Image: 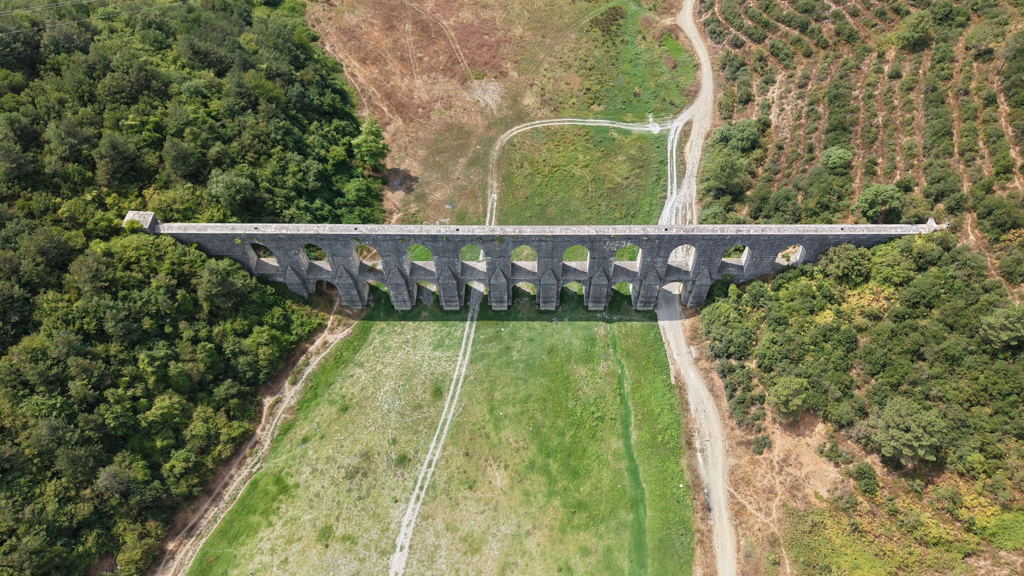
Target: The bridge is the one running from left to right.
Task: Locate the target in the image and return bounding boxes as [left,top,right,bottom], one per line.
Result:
[158,224,927,310]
